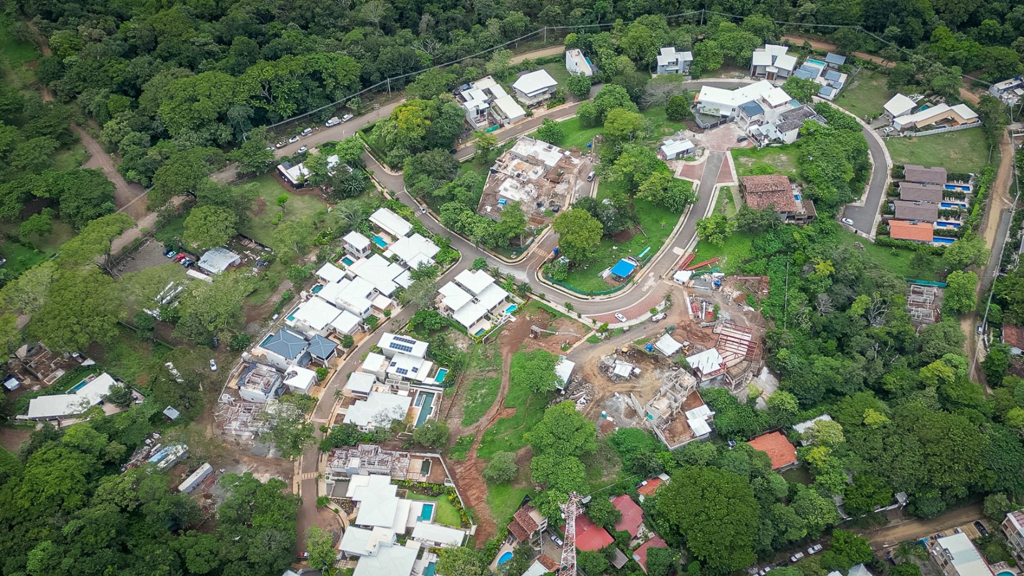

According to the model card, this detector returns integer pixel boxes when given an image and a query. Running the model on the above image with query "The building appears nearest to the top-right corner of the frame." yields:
[987,75,1024,106]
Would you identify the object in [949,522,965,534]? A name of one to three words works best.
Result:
vehicle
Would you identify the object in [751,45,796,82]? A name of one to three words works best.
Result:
house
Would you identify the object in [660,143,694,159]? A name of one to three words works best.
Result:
shed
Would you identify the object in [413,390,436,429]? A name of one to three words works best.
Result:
swimming pool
